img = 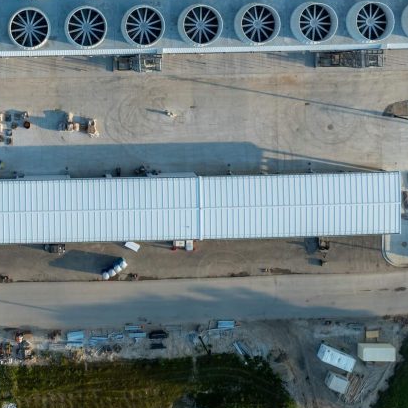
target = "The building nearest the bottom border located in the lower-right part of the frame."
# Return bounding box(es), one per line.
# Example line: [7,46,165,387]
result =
[320,366,350,393]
